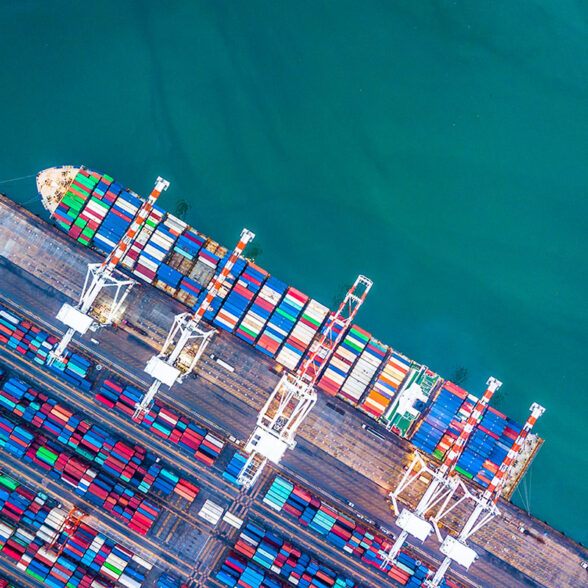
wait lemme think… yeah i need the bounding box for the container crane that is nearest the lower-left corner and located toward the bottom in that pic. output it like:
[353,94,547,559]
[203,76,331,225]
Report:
[49,501,96,556]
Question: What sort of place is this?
port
